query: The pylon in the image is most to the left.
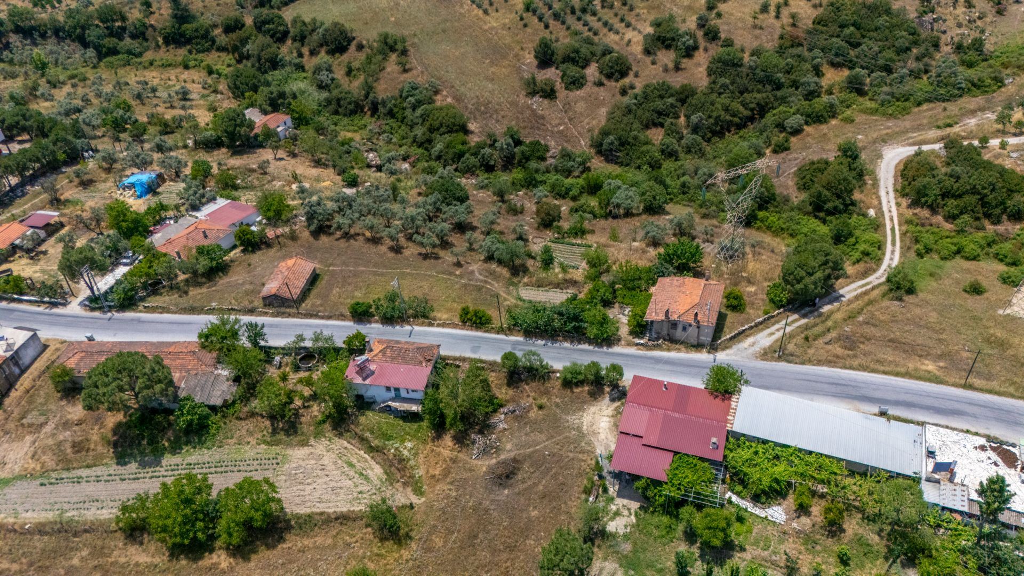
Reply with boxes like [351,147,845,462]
[710,146,787,270]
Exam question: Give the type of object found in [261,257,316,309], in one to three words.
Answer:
barn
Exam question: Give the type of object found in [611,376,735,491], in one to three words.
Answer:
house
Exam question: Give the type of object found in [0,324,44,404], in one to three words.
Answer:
house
